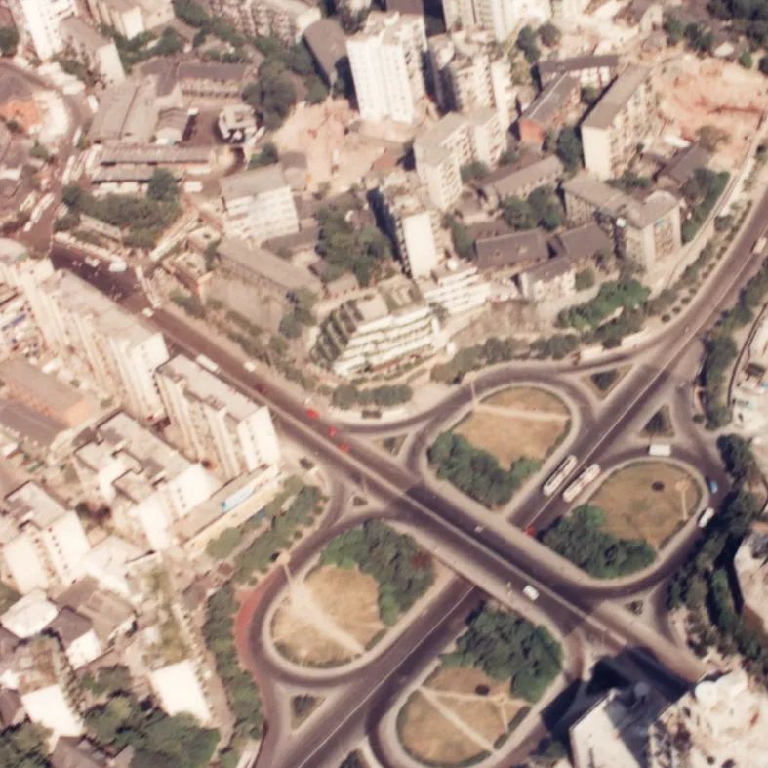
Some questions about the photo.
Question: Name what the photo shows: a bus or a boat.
bus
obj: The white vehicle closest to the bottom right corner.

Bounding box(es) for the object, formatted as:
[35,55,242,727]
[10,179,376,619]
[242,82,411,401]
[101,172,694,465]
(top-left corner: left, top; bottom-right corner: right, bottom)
[697,502,718,527]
